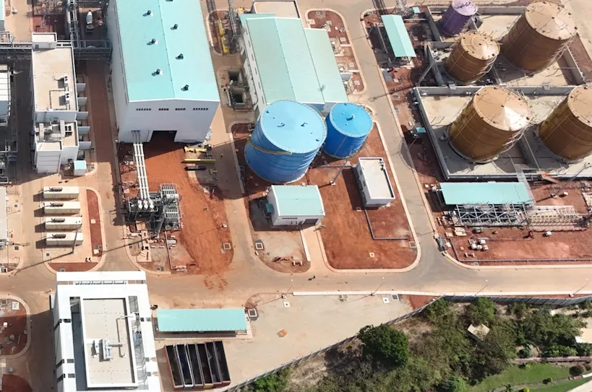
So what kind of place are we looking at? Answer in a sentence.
It's an industrial area.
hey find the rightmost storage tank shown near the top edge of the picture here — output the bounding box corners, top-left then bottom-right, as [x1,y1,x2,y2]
[501,0,579,73]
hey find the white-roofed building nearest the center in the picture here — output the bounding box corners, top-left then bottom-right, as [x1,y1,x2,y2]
[268,185,327,226]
